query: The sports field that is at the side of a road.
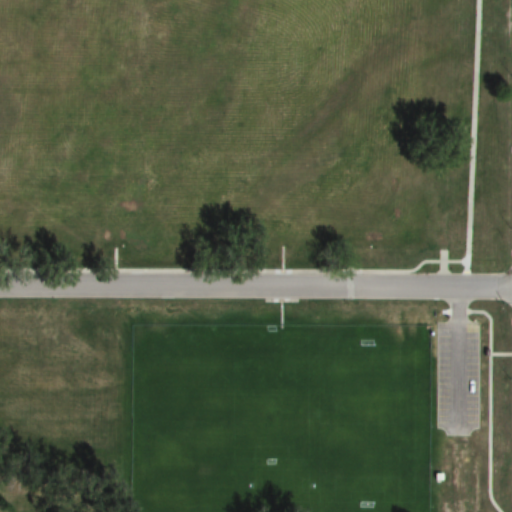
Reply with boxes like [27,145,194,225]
[134,324,432,512]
